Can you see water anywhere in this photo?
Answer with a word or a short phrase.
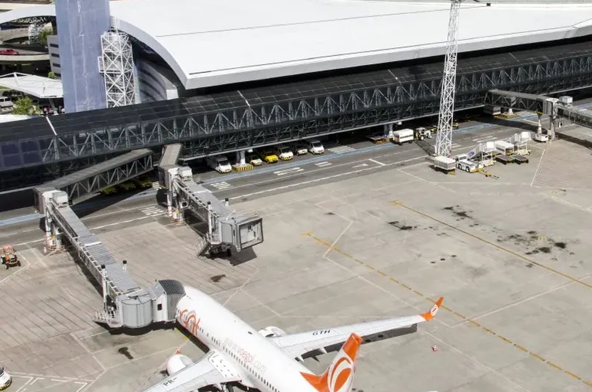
No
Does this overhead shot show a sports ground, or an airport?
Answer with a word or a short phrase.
airport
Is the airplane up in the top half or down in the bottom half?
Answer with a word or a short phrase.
bottom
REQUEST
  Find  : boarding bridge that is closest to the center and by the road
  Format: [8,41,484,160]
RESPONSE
[155,140,270,261]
